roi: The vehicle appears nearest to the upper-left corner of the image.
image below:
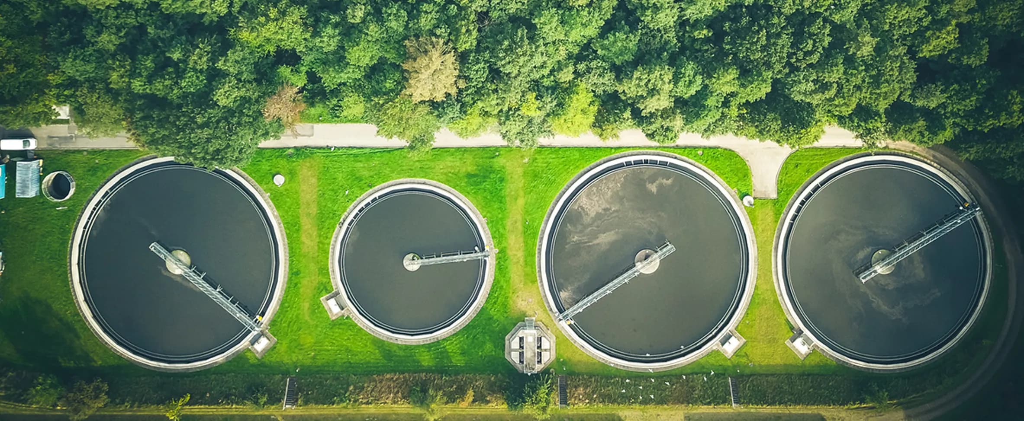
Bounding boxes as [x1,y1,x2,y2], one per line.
[1,137,40,151]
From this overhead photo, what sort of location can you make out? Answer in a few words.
industrial area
